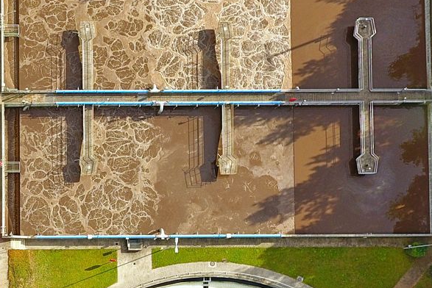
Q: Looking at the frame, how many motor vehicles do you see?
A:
none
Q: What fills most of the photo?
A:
water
